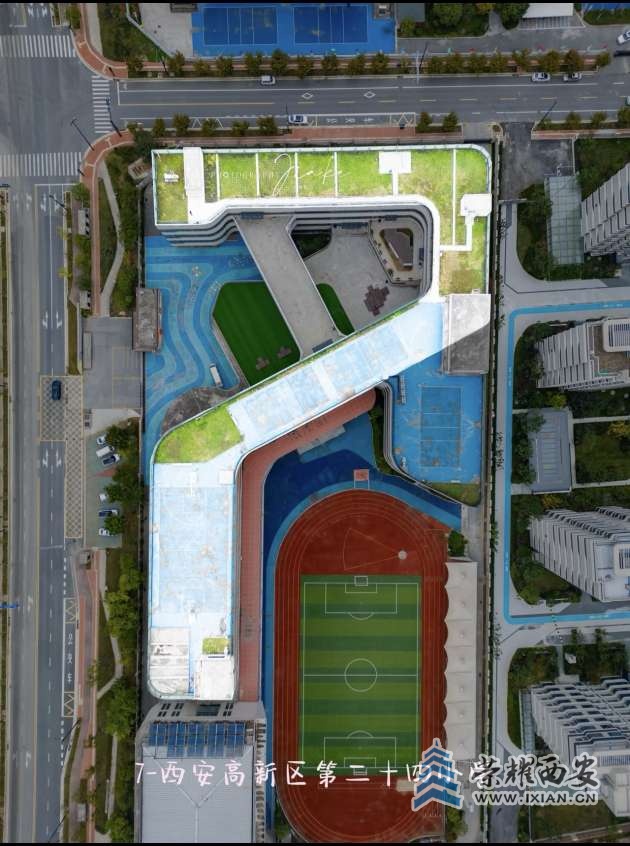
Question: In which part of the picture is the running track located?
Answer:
bottom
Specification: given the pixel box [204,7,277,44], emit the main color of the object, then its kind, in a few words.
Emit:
blue sports court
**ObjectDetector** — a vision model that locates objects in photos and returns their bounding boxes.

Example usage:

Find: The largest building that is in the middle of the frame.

[147,145,493,702]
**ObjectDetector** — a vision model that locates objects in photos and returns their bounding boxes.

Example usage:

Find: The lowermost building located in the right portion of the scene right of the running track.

[533,671,630,815]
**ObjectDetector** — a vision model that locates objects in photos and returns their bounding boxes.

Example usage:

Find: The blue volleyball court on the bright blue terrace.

[419,387,462,466]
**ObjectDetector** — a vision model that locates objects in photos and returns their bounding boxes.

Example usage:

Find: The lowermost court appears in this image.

[159,488,230,605]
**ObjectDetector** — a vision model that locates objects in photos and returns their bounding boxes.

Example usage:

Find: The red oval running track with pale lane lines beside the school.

[274,489,452,846]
